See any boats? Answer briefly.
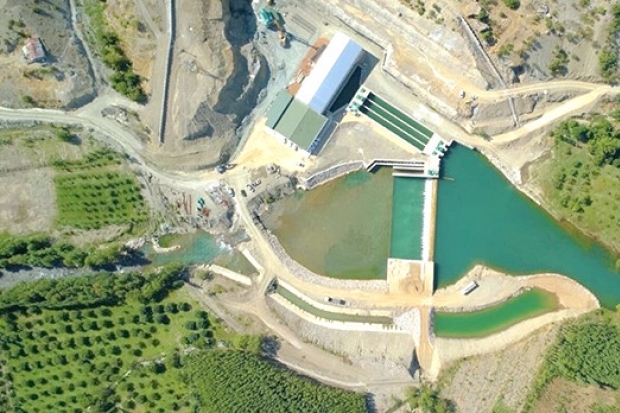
No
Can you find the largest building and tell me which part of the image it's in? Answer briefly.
top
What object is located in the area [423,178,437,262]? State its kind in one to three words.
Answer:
dam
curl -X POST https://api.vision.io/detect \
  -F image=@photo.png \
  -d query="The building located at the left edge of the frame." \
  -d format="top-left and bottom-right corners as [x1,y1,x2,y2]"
[27,36,51,65]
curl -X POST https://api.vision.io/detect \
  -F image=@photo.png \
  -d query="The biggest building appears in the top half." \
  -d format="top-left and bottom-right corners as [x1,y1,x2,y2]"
[275,33,363,154]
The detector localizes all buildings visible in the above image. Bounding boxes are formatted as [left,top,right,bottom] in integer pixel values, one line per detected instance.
[275,33,363,154]
[27,36,51,65]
